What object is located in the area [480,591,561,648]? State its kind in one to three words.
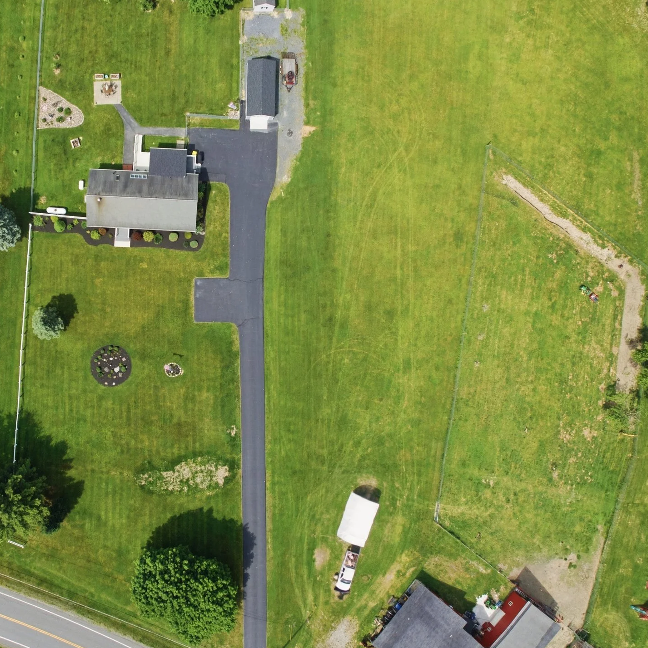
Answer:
barn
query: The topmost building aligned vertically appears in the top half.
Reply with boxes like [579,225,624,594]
[246,58,276,130]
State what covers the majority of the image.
grass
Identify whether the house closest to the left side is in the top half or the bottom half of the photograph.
top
